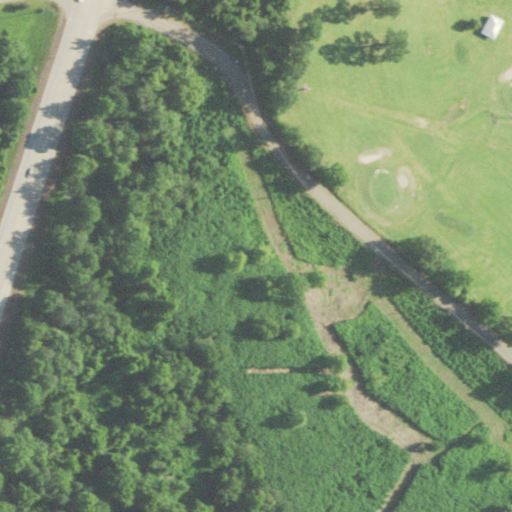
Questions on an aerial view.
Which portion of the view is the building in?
top right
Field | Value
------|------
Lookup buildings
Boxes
[482,14,505,39]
